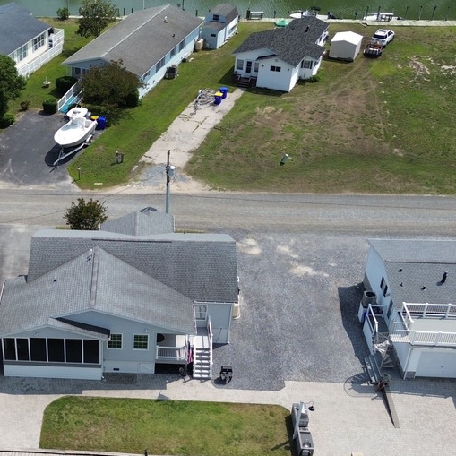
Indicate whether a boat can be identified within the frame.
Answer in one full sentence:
Yes, a boat appears in the view.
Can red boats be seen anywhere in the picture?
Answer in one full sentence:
No, I can't see a single red boat in this photo.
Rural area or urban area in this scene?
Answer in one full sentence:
The area shown here is urban.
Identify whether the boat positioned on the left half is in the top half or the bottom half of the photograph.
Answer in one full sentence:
It is in the top half that the boat positioned on the left half appears.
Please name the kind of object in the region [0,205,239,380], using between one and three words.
house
